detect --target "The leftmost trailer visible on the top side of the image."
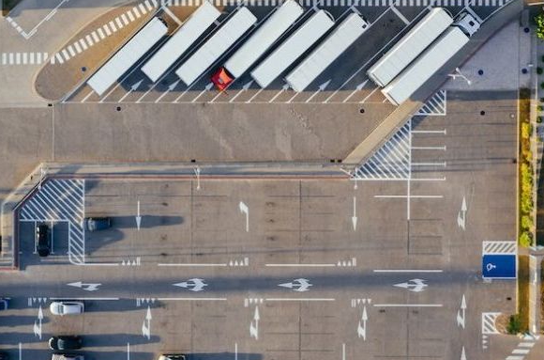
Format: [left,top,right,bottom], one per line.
[88,18,166,95]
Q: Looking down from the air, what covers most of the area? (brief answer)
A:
paved ground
